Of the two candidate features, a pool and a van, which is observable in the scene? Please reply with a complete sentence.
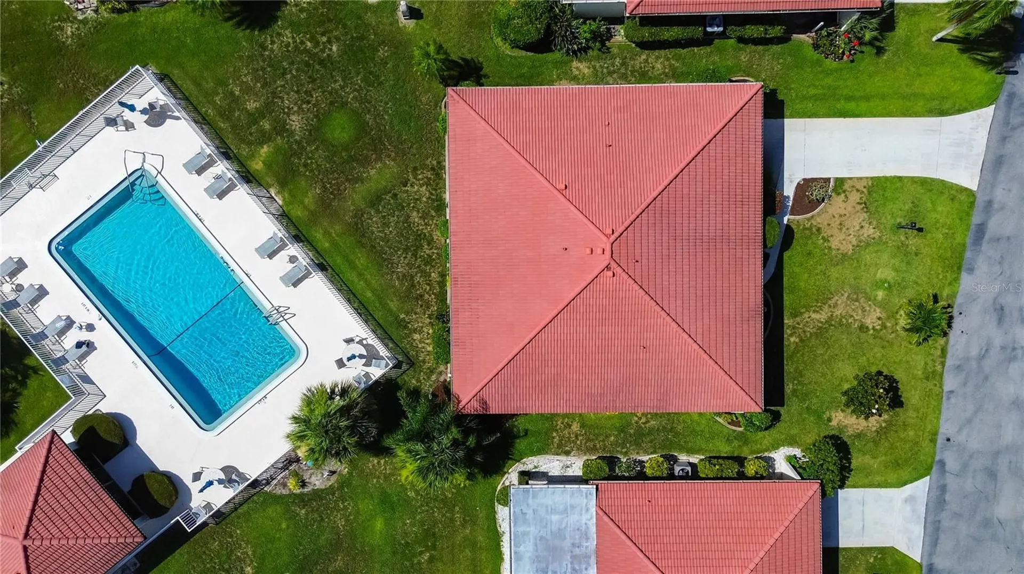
There is a pool in the scene.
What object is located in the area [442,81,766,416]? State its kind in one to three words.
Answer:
house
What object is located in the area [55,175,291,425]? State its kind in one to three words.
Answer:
swimming pool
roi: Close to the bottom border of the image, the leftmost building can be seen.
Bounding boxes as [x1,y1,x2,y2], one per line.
[0,430,162,574]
